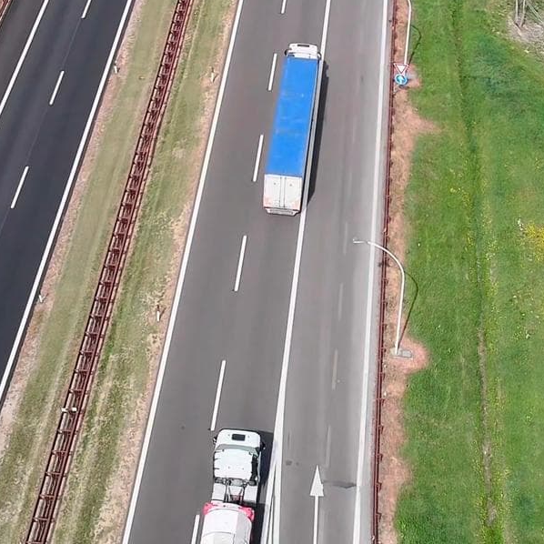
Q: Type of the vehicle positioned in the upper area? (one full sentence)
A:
The vehicle positioned in the upper area in the image is a truck.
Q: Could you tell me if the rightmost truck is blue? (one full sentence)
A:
Yes, blue is the color of the rightmost truck.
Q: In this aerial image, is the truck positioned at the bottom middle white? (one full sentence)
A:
Yes, the truck positioned at the bottom middle is white.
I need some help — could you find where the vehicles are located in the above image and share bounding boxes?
[264,43,323,214]
[198,428,265,544]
